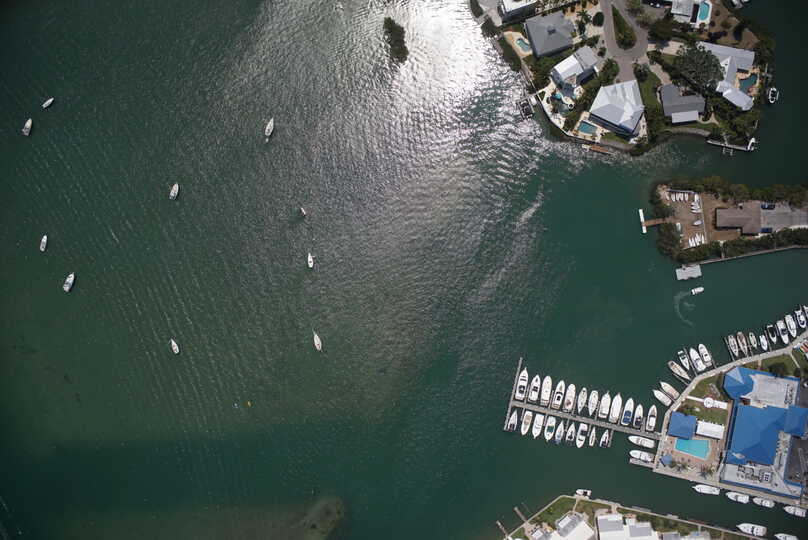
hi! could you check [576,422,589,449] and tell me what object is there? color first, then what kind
white boat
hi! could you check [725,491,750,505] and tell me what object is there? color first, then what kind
white boat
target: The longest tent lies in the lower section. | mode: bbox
[695,420,725,439]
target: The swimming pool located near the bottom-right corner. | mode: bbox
[675,437,711,460]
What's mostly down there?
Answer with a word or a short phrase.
water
